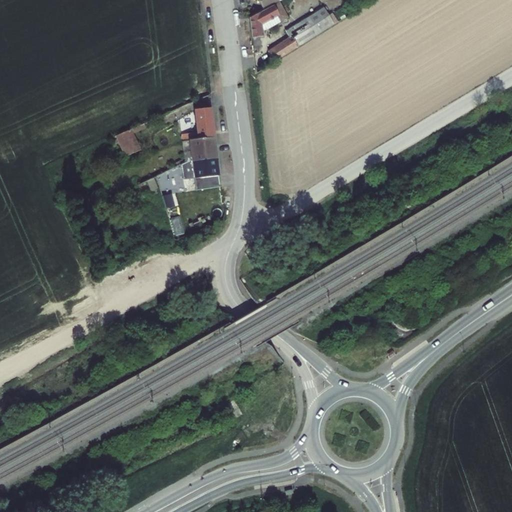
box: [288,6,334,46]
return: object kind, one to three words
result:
building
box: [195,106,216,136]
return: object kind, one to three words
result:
house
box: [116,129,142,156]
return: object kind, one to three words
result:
barn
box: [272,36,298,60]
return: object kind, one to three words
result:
barn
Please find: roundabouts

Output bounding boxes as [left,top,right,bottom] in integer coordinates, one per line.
[306,384,404,481]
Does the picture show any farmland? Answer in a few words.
Yes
